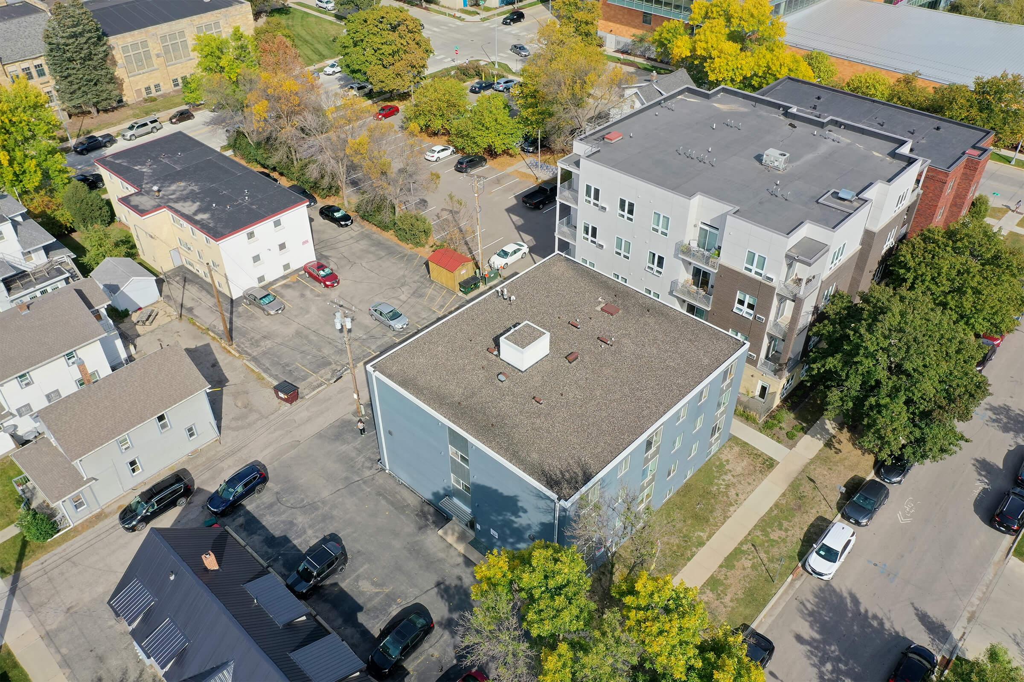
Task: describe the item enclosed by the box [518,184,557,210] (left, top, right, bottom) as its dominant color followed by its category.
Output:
black truck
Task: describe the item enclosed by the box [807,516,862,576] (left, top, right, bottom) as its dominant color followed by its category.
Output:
white car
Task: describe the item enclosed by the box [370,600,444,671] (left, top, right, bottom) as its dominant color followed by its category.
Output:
black car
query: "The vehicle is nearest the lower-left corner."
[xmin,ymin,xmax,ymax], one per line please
[127,460,206,524]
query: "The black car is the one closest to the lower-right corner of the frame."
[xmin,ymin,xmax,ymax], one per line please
[892,647,942,682]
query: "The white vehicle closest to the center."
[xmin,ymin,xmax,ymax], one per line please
[492,239,533,266]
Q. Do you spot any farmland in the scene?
No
